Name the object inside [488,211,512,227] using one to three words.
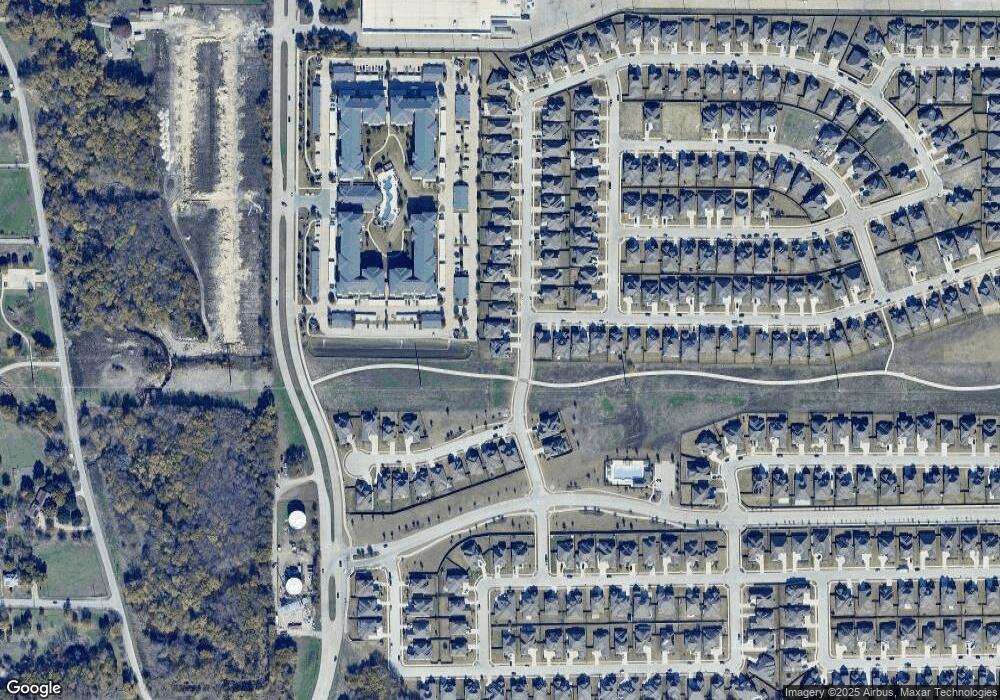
house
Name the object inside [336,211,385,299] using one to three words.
building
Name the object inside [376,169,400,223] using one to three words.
swimming pool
